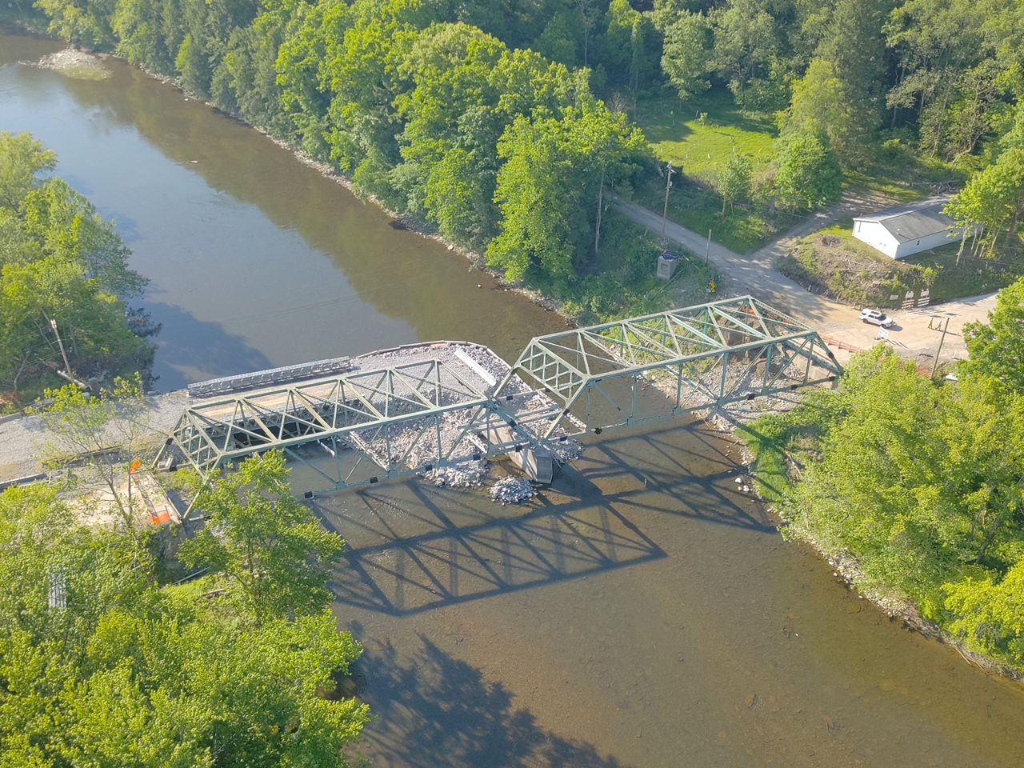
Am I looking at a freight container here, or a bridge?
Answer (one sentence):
This aerial view contains a bridge.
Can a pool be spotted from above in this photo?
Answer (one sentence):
No, this view has no pool in it.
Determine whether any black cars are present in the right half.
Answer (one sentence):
No, I can find no black car in the right half.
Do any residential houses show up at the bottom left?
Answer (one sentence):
No, at the bottom left there is no residential house.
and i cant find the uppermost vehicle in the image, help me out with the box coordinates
[859,306,897,331]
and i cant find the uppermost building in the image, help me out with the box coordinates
[852,195,976,258]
